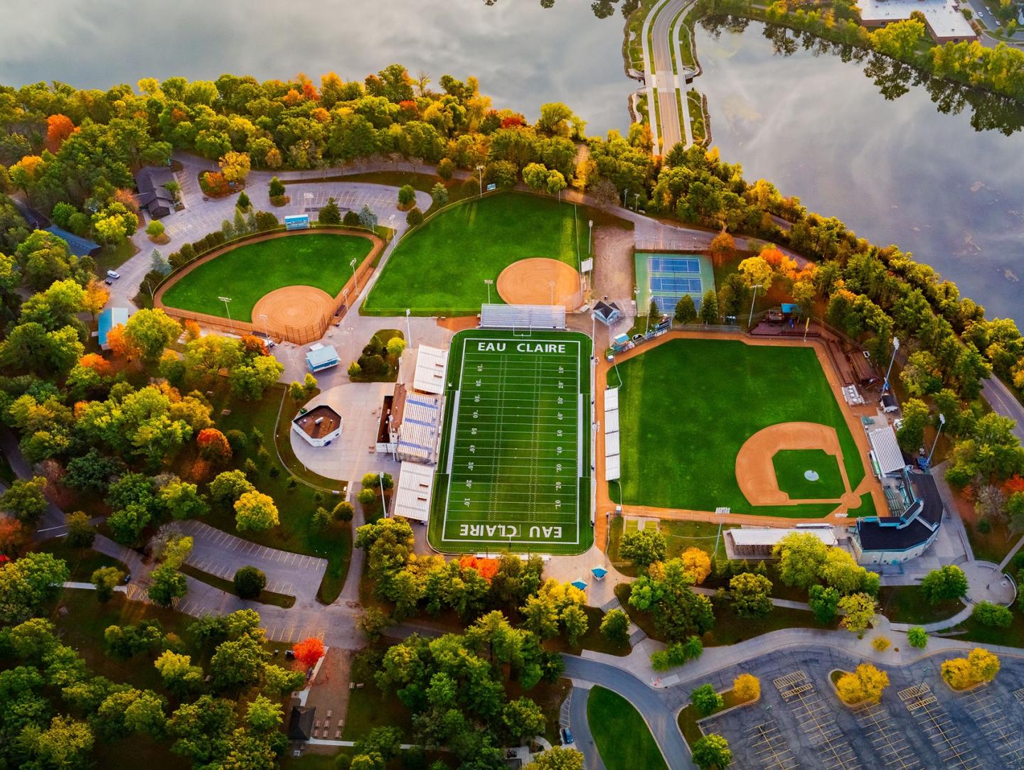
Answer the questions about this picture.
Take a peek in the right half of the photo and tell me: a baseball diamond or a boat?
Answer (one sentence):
The feature located in the right half of the photo is a baseball diamond.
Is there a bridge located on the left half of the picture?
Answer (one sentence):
No, I can find no bridge on the left half of the picture.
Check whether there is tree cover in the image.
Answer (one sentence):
Yes, tree cover can be seen from above here.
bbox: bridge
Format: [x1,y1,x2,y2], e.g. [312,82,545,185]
[640,68,692,94]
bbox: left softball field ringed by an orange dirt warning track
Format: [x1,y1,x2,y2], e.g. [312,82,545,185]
[155,227,385,346]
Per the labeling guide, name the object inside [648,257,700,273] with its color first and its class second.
blue tennis court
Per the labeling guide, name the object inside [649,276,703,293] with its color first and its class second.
blue tennis court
